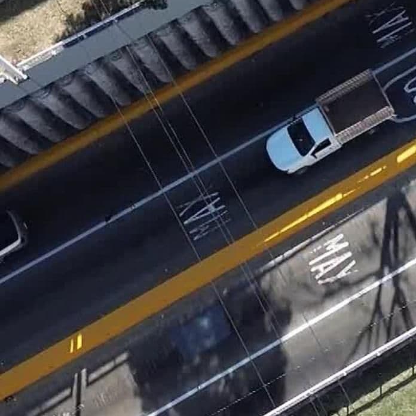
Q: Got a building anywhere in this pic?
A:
No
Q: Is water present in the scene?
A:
No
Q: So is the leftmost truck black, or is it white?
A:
black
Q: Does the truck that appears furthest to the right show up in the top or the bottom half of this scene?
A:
top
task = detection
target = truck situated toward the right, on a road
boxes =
[264,71,396,175]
